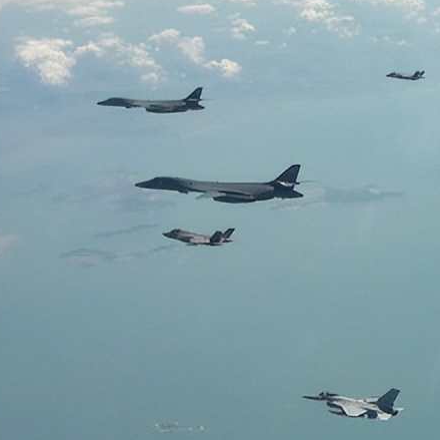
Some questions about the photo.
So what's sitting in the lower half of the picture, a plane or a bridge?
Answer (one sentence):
The one visible in the lower half of the picture is a plane.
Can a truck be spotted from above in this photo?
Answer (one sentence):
No, there appears to be no truck in this shot.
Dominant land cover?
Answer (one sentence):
The bulk of the photo consists of water.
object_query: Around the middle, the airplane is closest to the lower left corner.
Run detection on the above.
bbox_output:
[164,227,235,246]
